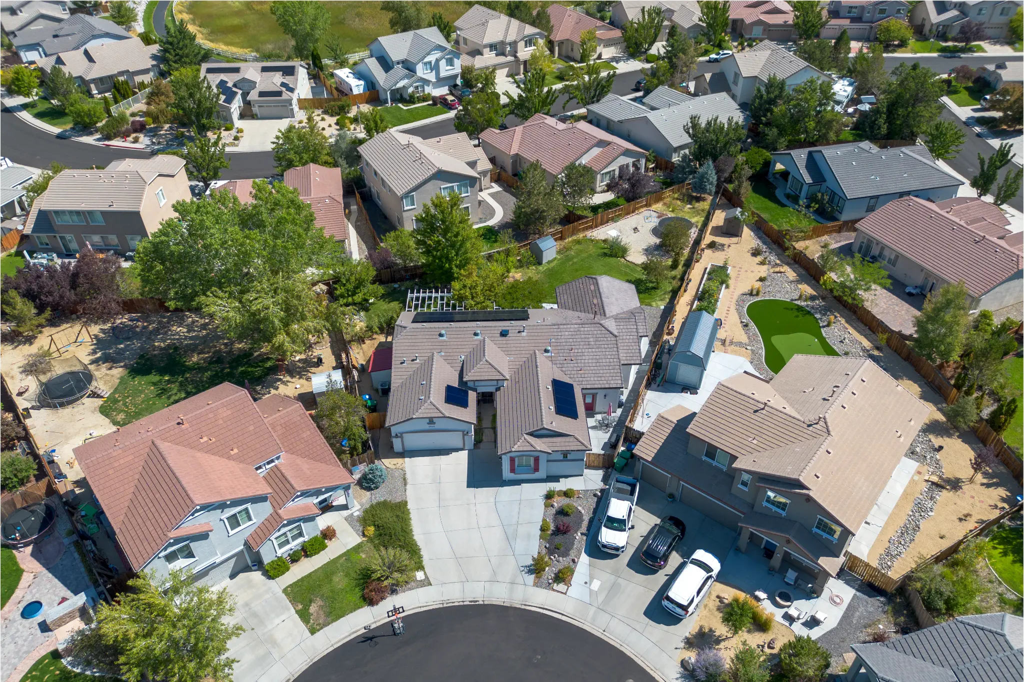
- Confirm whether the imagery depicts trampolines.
Yes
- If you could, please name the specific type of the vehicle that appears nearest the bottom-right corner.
automobile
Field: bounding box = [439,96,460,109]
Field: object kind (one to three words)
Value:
vehicle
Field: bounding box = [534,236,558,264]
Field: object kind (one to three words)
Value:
shed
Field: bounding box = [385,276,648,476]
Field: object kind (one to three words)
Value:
house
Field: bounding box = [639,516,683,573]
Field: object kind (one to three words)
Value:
car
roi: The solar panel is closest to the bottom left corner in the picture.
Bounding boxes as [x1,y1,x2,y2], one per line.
[446,384,469,405]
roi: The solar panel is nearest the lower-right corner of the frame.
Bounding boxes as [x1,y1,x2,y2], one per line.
[553,378,578,418]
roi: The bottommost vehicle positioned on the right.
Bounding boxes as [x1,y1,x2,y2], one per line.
[662,552,716,621]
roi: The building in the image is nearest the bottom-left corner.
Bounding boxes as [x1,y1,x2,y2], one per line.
[72,380,356,596]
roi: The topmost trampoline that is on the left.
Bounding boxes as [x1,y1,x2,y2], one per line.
[26,351,101,410]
